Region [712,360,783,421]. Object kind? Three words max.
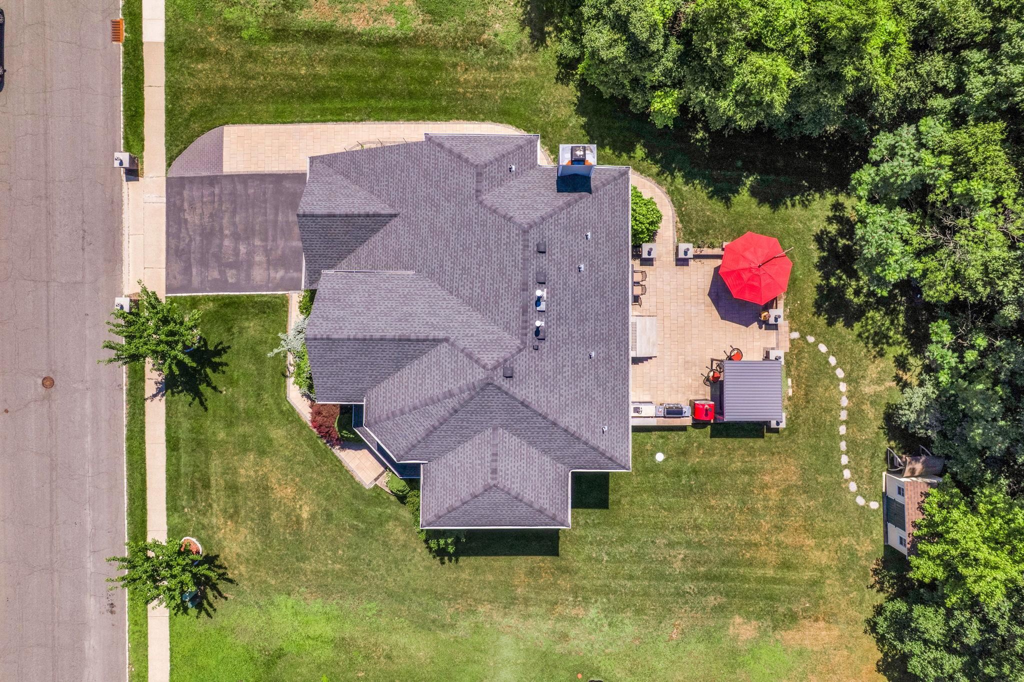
gazebo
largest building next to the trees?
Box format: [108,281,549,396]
[295,133,632,528]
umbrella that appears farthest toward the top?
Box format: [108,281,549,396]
[719,232,794,305]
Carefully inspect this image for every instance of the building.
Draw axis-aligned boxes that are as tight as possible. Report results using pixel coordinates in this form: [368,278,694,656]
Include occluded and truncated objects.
[295,133,632,528]
[882,472,956,562]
